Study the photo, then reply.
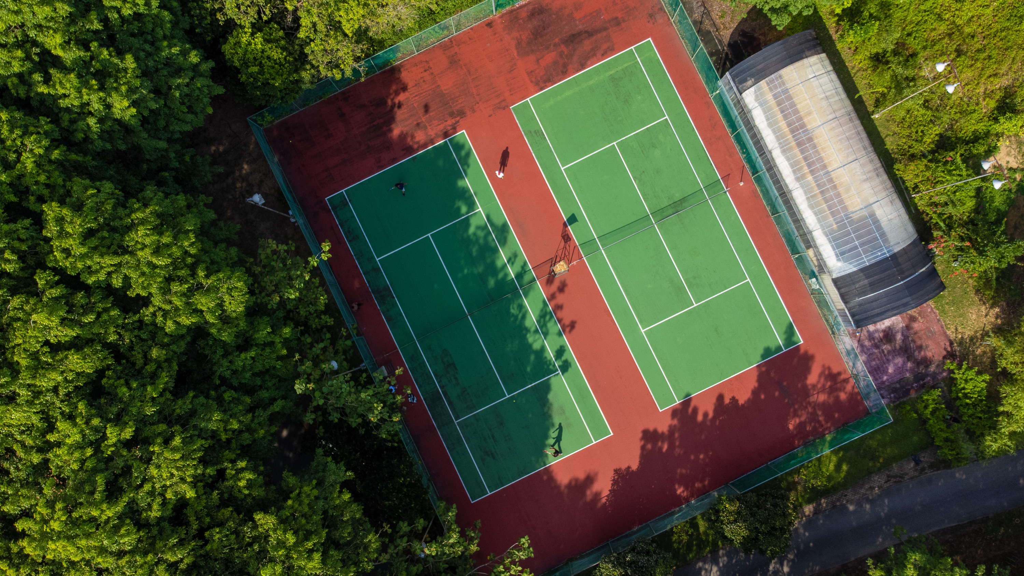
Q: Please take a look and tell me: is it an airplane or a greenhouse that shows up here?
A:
greenhouse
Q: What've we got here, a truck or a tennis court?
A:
tennis court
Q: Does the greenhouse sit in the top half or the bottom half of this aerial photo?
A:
top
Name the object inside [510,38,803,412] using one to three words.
tennis court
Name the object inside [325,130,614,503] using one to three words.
tennis court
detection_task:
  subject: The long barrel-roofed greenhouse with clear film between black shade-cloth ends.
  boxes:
[724,29,945,328]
